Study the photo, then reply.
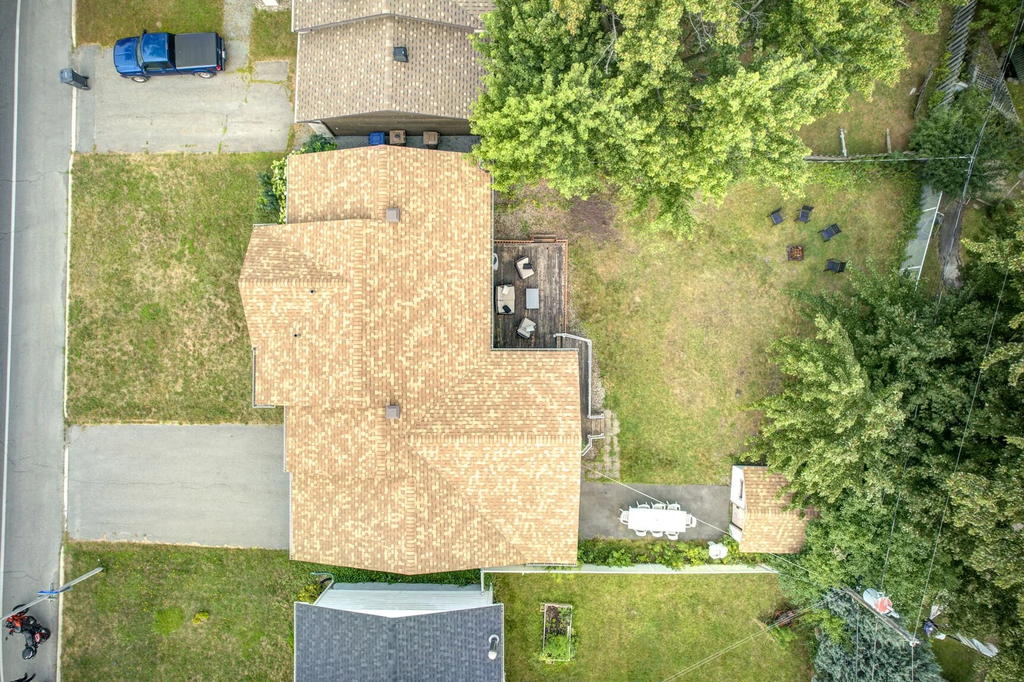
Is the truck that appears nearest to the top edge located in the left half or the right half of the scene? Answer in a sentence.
You can find the truck that appears nearest to the top edge on the left side of the picture.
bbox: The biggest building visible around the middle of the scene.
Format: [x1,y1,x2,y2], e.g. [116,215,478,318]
[239,144,581,574]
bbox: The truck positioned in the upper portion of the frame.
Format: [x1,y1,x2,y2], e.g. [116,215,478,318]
[111,28,230,83]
